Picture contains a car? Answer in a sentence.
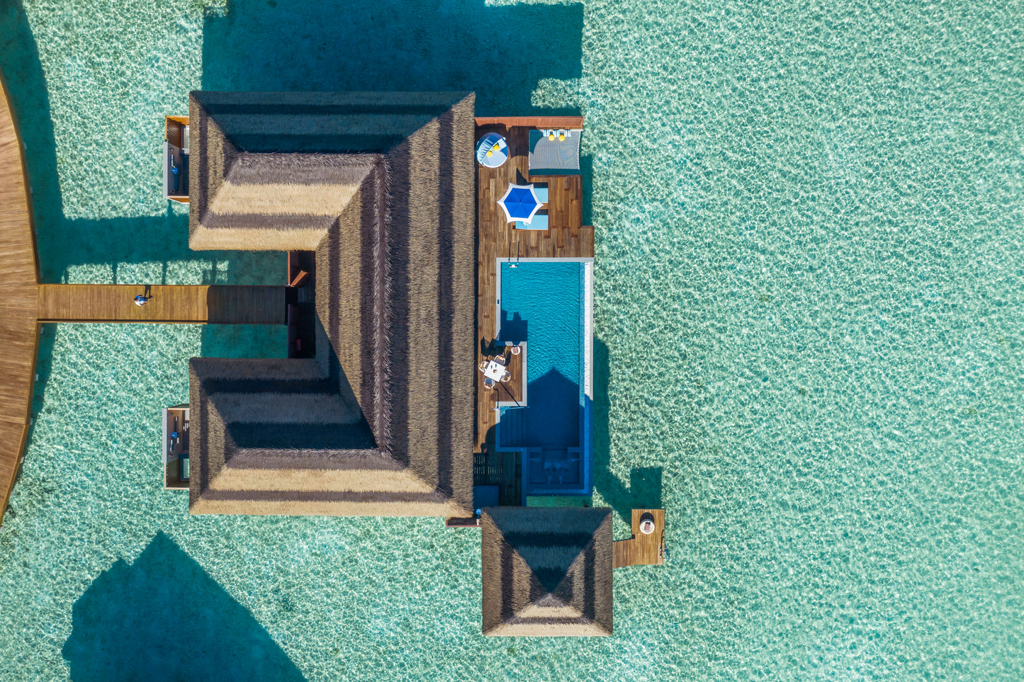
No, there's no car here.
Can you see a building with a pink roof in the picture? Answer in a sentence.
No, the scene contains no building with a pink roof.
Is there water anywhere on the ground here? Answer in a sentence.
Yes, there is water in the image.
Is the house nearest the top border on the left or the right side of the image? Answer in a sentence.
It is on the left.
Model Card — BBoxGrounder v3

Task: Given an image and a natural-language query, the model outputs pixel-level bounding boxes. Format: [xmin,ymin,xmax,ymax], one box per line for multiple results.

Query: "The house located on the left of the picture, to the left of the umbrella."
[187,89,479,520]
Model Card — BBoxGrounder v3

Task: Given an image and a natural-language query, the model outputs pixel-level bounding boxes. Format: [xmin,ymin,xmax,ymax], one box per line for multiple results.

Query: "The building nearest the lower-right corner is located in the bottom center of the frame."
[479,504,616,639]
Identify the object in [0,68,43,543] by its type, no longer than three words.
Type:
pier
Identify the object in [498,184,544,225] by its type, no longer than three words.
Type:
umbrella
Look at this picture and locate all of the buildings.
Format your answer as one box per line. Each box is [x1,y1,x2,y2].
[479,504,616,639]
[187,89,479,520]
